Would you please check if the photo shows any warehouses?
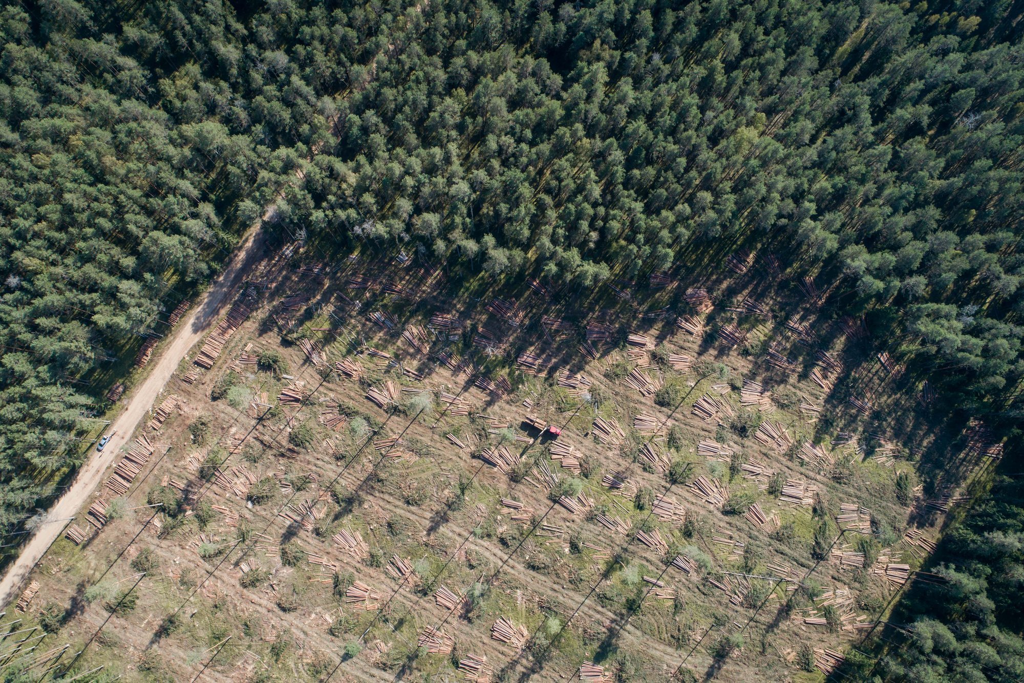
No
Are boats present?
No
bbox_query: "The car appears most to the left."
[95,434,112,453]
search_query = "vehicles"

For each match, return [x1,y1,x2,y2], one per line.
[530,413,561,443]
[95,434,112,453]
